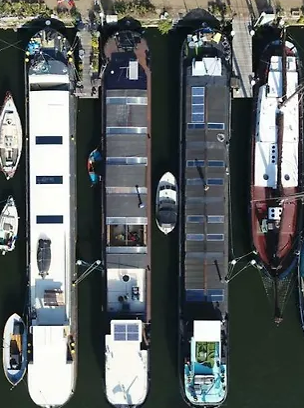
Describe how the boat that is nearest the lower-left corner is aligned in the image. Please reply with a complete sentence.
From this overhead view, the boat that is nearest the lower-left corner appears to run vertically.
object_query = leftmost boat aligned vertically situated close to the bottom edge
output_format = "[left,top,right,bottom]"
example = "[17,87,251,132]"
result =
[1,313,27,394]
